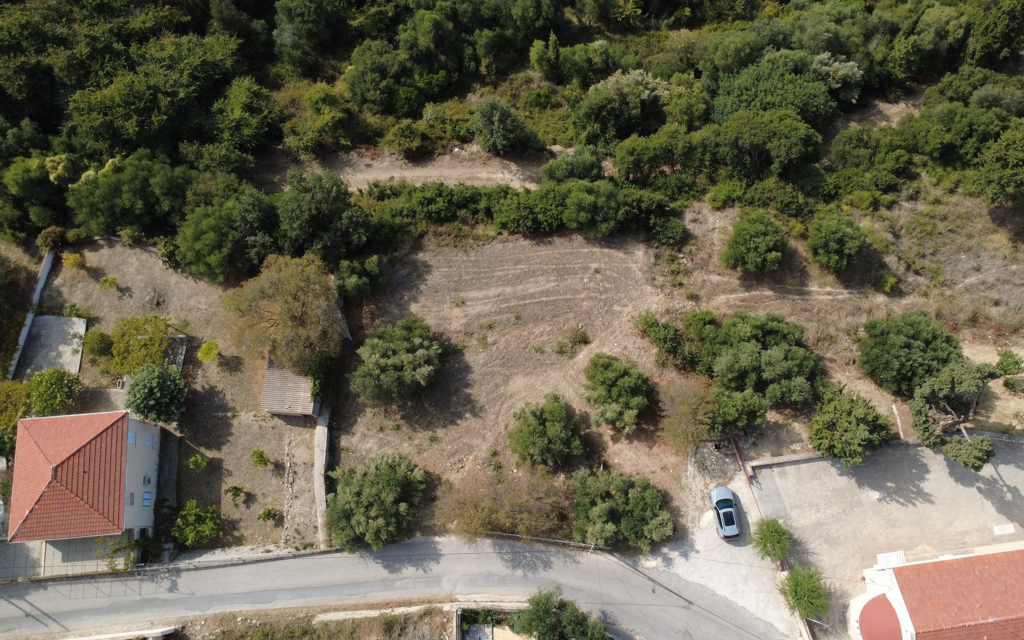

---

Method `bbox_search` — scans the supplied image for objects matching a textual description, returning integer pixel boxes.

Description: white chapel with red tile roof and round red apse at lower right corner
[843,536,1024,640]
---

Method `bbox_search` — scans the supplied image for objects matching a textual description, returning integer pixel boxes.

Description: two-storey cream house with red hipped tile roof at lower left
[4,410,159,543]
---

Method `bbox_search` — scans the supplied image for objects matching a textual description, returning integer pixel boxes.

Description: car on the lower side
[710,487,740,541]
